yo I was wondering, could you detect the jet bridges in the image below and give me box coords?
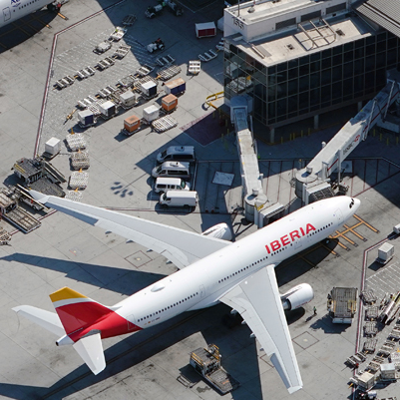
[294,69,400,199]
[226,94,287,221]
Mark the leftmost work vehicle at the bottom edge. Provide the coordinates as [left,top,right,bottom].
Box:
[185,335,237,394]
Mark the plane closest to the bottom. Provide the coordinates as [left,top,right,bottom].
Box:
[12,186,363,392]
